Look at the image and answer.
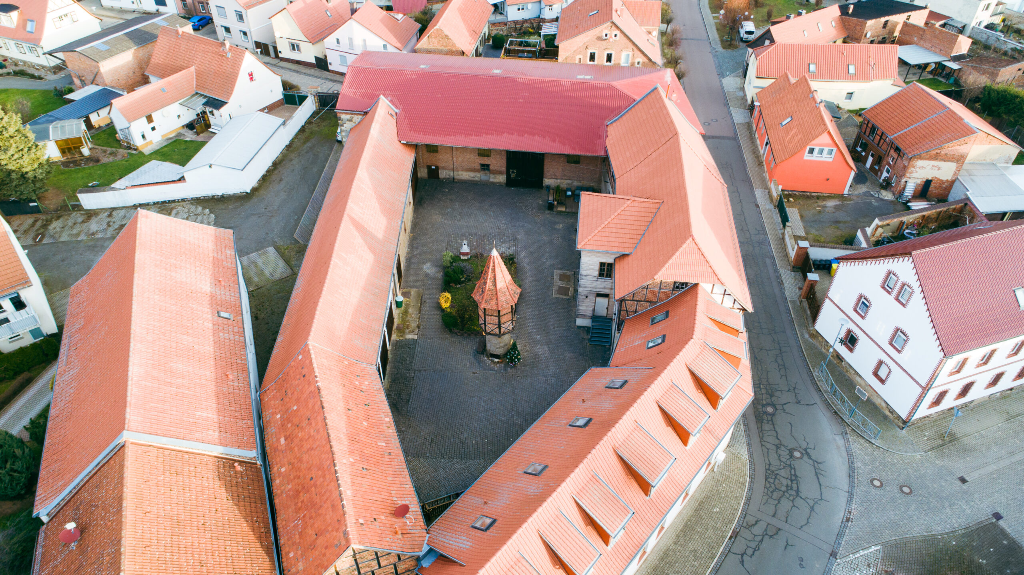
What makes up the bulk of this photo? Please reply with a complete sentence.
What you mostly see from above here is buildings.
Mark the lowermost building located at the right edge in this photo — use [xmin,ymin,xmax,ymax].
[810,216,1024,428]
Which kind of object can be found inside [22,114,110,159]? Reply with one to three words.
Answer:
building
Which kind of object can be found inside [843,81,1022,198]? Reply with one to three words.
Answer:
house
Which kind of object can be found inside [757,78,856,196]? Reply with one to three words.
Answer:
house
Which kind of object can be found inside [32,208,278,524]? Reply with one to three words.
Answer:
building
